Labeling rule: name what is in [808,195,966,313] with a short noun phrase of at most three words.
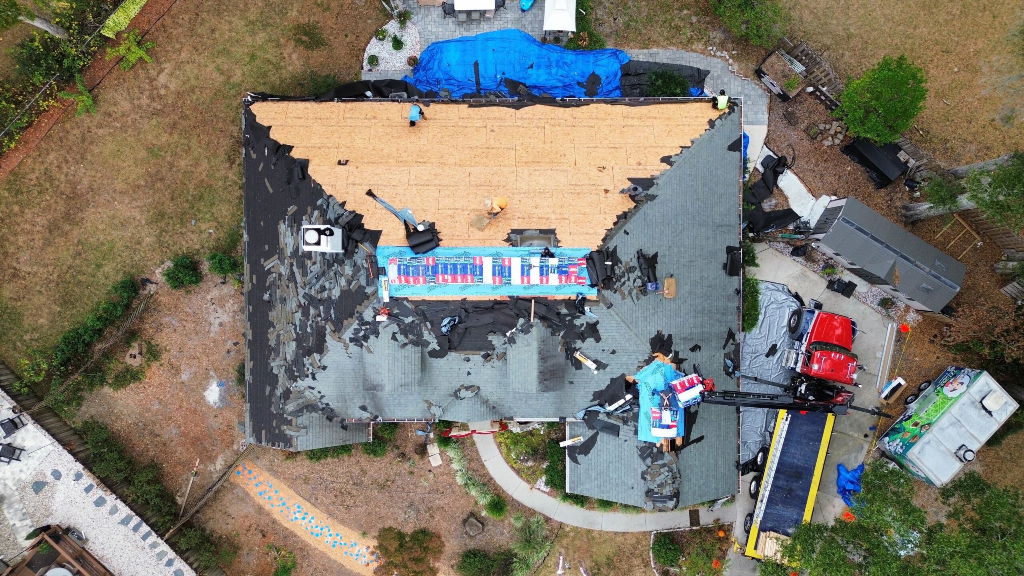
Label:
shed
